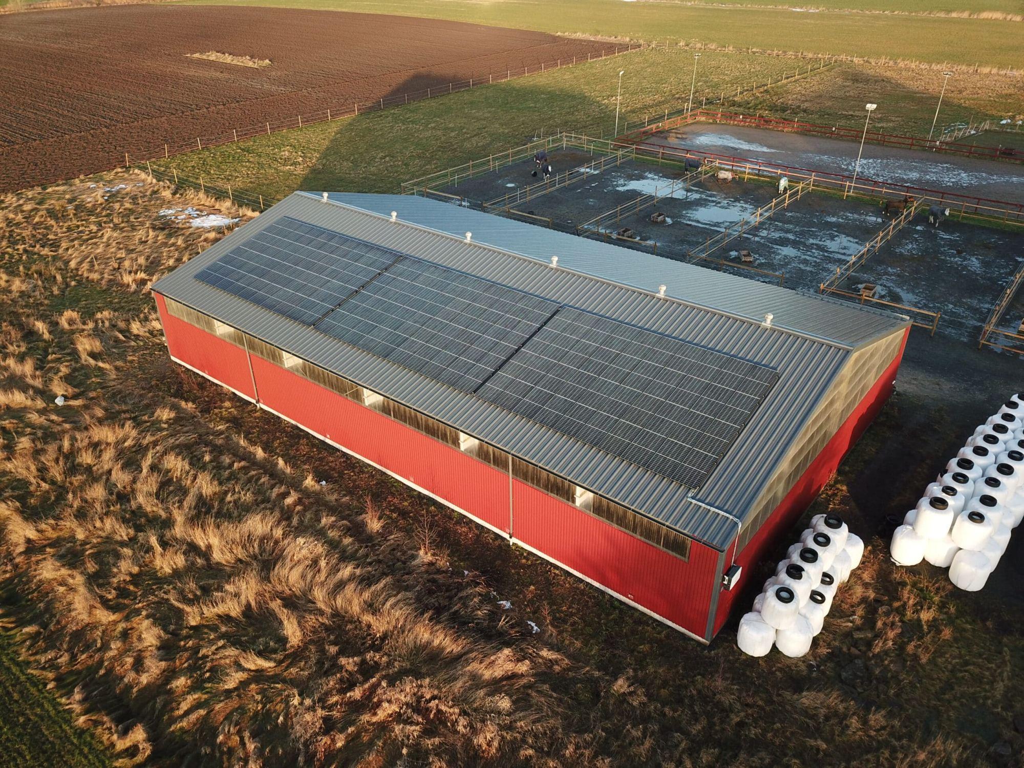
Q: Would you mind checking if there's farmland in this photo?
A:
Yes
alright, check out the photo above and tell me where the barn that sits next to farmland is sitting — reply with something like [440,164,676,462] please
[148,189,914,642]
